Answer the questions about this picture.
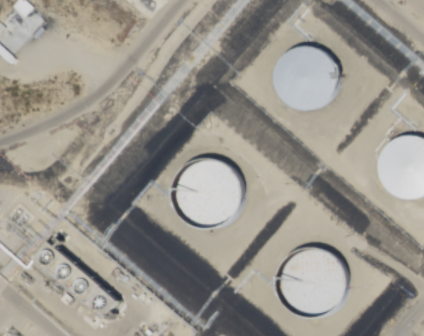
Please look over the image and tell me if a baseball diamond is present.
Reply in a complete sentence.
No, the scene contains no baseball diamond.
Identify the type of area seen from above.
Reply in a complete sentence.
The area seen from above is an industrial area.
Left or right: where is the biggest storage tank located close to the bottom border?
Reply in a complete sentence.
The biggest storage tank located close to the bottom border is on the right side of the image.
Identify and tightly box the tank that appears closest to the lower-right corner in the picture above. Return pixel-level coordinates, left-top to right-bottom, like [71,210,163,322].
[274,246,350,320]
